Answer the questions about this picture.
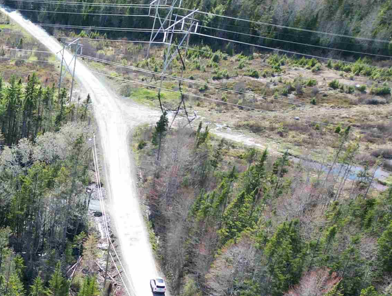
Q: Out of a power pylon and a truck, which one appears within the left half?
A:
power pylon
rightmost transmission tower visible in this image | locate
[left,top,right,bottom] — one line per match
[161,7,195,90]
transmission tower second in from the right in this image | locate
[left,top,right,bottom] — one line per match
[146,0,173,58]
